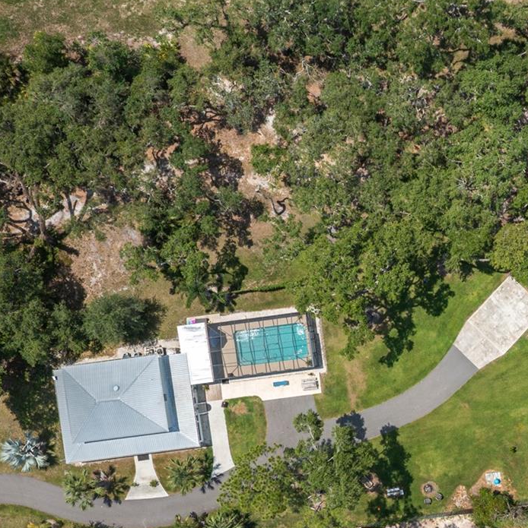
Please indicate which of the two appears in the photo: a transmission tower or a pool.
pool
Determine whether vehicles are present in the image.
No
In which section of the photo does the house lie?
bottom left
